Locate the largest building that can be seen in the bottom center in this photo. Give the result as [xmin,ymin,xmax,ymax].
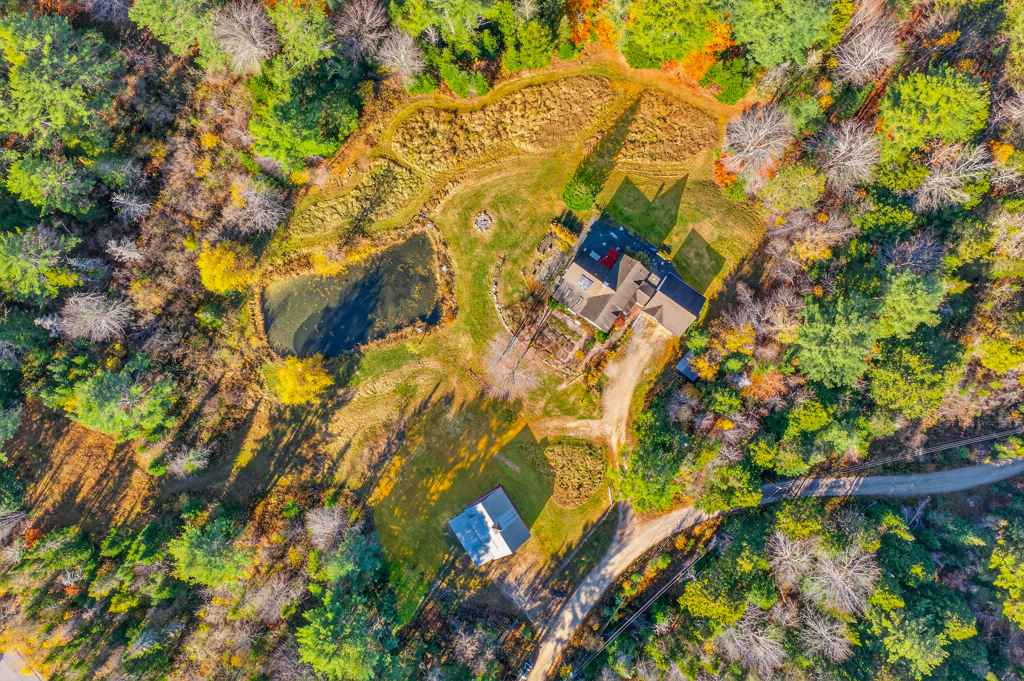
[448,483,531,567]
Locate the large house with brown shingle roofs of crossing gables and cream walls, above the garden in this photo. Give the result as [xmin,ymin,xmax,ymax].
[551,250,655,333]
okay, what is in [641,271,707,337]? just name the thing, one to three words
building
